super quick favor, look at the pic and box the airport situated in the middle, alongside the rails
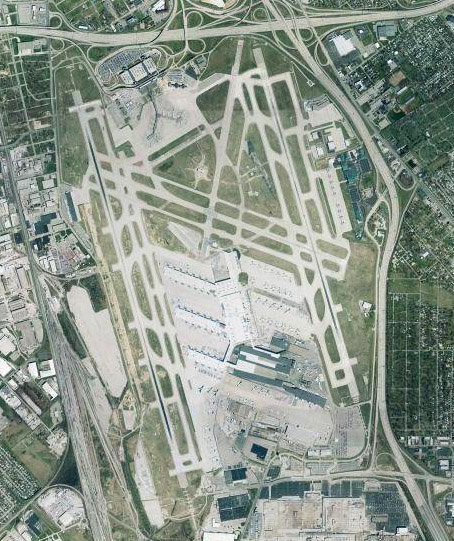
[66,41,362,488]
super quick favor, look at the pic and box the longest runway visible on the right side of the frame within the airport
[255,47,362,400]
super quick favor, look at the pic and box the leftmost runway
[77,108,188,488]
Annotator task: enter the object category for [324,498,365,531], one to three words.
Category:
building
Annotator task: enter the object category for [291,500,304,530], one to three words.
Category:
building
